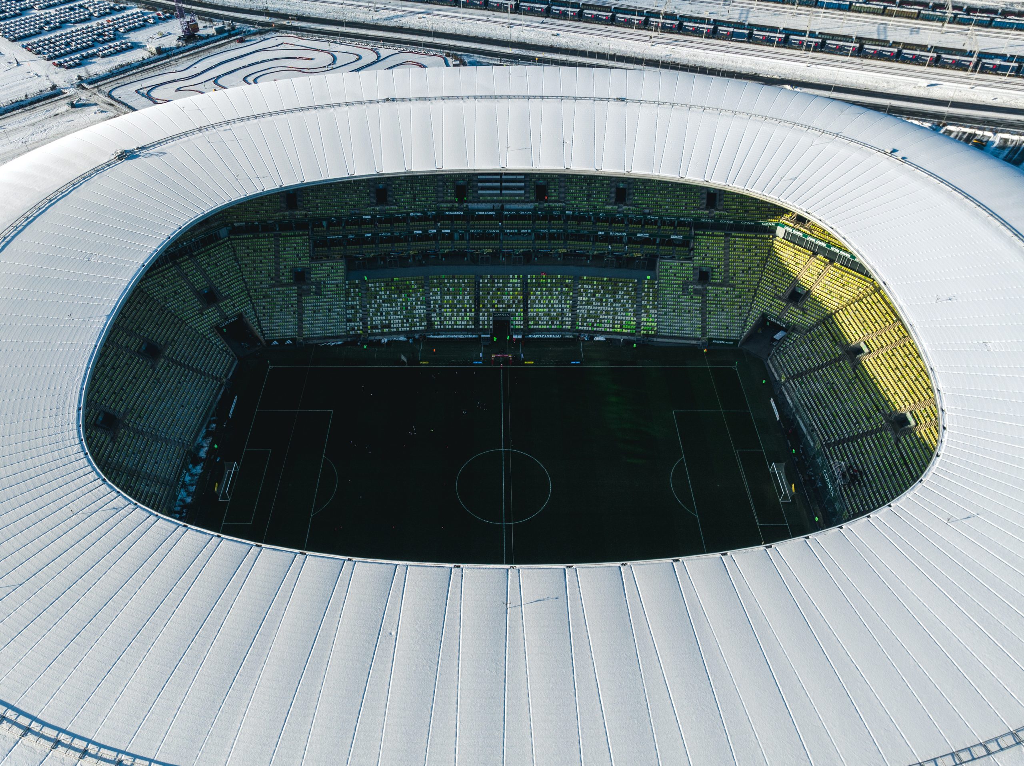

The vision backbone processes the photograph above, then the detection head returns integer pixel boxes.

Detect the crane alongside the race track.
[167,0,204,43]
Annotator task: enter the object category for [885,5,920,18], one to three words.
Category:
rail car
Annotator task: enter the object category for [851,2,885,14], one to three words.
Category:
rail car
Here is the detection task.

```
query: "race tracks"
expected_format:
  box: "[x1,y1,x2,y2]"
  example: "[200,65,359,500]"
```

[107,35,451,110]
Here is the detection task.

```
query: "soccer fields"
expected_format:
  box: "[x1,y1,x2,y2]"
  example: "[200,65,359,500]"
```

[168,316,841,565]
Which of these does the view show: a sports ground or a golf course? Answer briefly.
sports ground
